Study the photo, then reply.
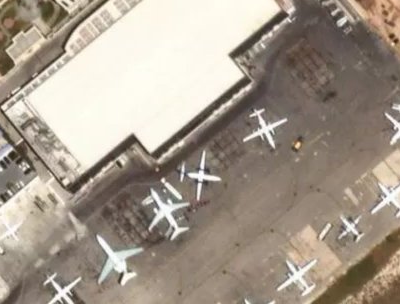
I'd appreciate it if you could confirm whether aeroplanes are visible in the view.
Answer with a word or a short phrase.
Yes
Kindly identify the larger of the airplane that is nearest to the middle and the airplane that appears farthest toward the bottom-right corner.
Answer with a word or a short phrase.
the airplane that is nearest to the middle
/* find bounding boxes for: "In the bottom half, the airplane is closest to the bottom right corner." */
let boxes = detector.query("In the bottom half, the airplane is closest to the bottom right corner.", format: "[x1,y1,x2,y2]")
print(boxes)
[337,216,364,242]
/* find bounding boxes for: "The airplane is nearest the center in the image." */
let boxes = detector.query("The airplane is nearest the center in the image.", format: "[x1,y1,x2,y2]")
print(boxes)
[179,152,222,201]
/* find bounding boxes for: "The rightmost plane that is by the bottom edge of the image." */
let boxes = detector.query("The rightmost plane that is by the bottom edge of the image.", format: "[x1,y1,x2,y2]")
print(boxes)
[276,259,318,296]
